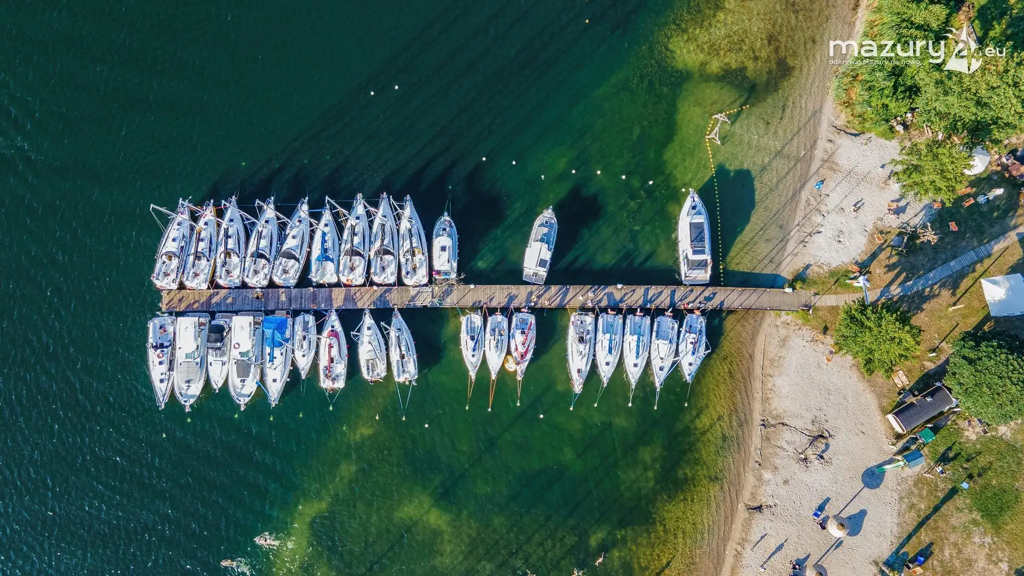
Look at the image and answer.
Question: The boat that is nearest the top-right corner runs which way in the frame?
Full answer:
The boat that is nearest the top-right corner has been laid out up and down relative to the frame.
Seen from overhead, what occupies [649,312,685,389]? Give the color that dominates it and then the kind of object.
white boat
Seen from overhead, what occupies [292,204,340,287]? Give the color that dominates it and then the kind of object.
white boat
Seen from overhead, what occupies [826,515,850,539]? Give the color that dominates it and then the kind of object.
white umbrella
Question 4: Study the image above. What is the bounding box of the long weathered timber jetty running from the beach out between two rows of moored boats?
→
[160,284,818,313]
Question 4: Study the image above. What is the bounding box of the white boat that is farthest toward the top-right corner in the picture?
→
[677,190,712,287]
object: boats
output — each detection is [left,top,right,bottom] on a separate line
[225,311,264,404]
[292,204,340,287]
[593,311,622,385]
[204,317,233,388]
[390,193,427,288]
[677,190,712,287]
[257,197,313,289]
[350,309,389,383]
[221,195,281,289]
[182,195,247,289]
[509,309,534,379]
[432,199,461,284]
[485,311,508,378]
[459,310,485,380]
[382,308,419,385]
[360,191,399,288]
[277,310,320,377]
[151,198,221,291]
[302,308,352,393]
[153,196,191,291]
[502,353,516,374]
[234,314,294,406]
[621,311,654,387]
[649,312,685,389]
[170,312,211,404]
[146,313,176,409]
[677,309,714,381]
[327,193,370,287]
[564,310,594,391]
[523,205,559,284]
